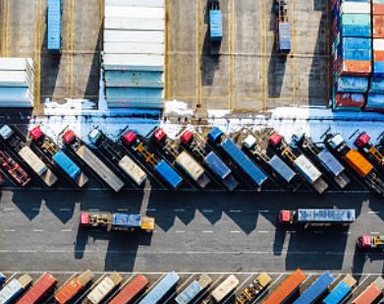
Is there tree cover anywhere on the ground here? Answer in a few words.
No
